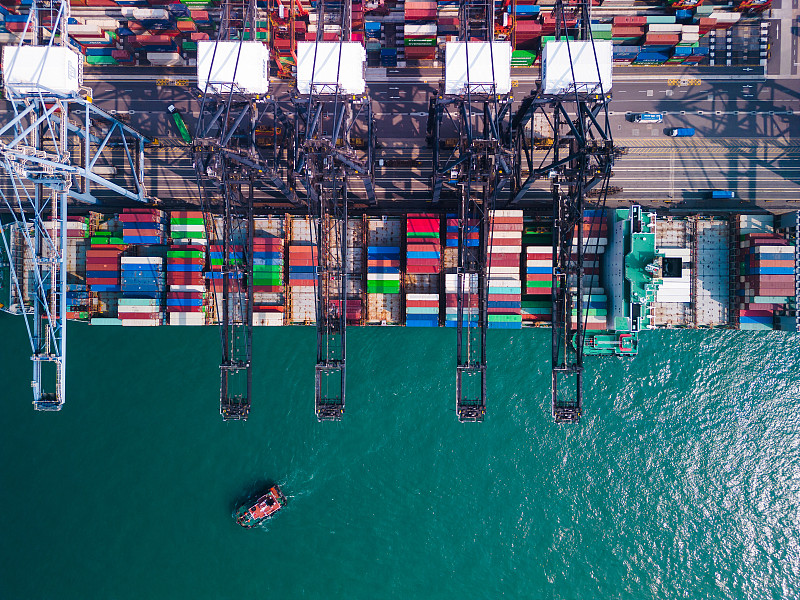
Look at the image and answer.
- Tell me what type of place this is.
port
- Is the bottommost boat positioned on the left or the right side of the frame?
left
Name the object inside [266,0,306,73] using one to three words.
container crane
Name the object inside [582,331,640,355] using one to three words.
vessel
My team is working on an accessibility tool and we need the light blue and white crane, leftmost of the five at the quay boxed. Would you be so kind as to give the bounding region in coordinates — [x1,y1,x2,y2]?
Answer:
[0,0,170,415]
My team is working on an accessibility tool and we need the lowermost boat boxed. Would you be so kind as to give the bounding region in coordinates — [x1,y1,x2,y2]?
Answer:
[237,485,288,524]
